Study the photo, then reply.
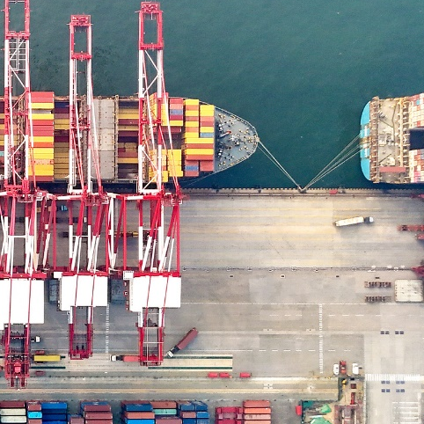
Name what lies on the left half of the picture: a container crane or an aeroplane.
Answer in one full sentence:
The feature located on the left half of the picture is a container crane.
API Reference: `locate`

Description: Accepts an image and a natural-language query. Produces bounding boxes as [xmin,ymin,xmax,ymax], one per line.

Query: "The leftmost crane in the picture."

[0,0,48,390]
